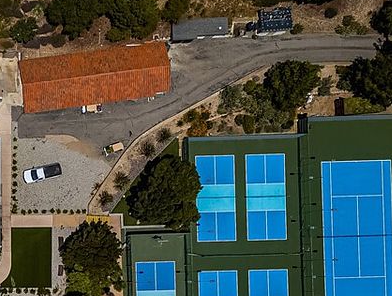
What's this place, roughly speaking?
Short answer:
sports ground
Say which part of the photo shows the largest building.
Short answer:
top left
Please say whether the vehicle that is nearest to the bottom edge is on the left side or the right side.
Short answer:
left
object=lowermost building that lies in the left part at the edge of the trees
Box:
[19,41,171,115]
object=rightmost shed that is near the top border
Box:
[254,7,292,37]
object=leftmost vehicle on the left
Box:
[23,163,62,184]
